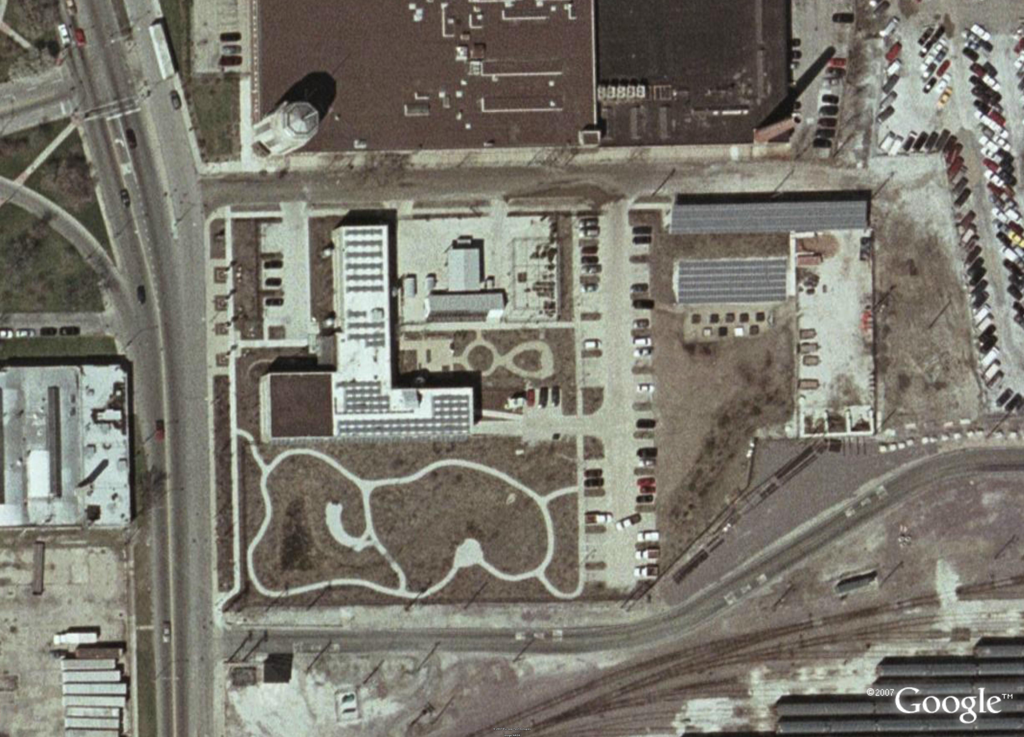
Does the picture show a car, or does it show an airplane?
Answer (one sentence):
It is a car that can be seen here.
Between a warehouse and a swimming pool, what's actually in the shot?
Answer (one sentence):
Looking from above, you can make out a warehouse.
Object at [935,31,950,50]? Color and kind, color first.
gray car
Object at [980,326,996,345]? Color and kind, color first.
black car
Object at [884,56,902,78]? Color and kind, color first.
white vehicle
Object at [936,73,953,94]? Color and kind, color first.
white vehicle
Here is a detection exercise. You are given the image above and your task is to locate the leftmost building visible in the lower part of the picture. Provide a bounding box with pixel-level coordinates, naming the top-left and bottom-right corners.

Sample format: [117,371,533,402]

[0,365,83,528]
